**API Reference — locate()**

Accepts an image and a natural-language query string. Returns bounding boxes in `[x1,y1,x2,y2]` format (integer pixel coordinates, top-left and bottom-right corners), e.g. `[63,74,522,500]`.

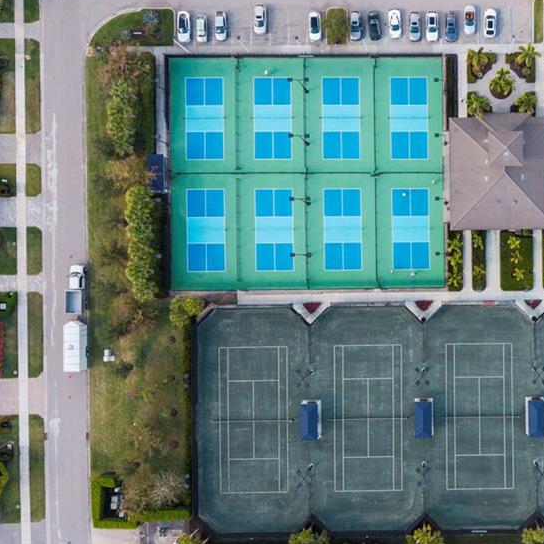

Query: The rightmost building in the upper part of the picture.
[449,113,544,230]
